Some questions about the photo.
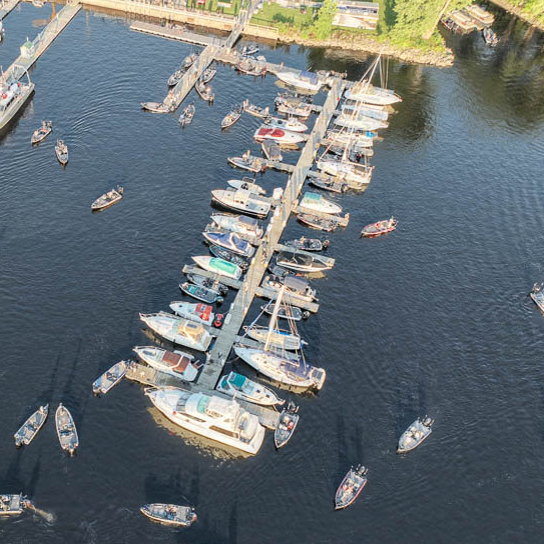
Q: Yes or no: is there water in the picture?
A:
Yes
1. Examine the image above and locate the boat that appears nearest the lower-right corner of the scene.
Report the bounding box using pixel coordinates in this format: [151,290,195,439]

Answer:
[395,414,431,454]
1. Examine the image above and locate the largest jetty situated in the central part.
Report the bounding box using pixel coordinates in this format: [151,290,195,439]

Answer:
[157,78,372,381]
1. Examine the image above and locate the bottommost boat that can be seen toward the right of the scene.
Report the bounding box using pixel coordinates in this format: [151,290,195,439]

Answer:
[333,464,370,509]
